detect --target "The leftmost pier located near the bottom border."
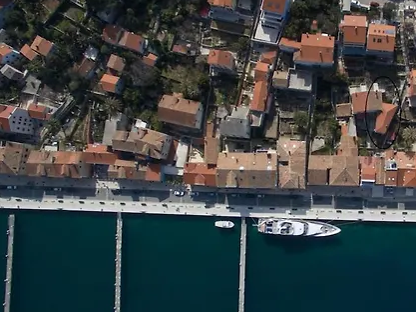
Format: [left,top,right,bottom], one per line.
[3,214,16,312]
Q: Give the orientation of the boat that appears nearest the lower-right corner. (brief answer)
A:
from side to side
